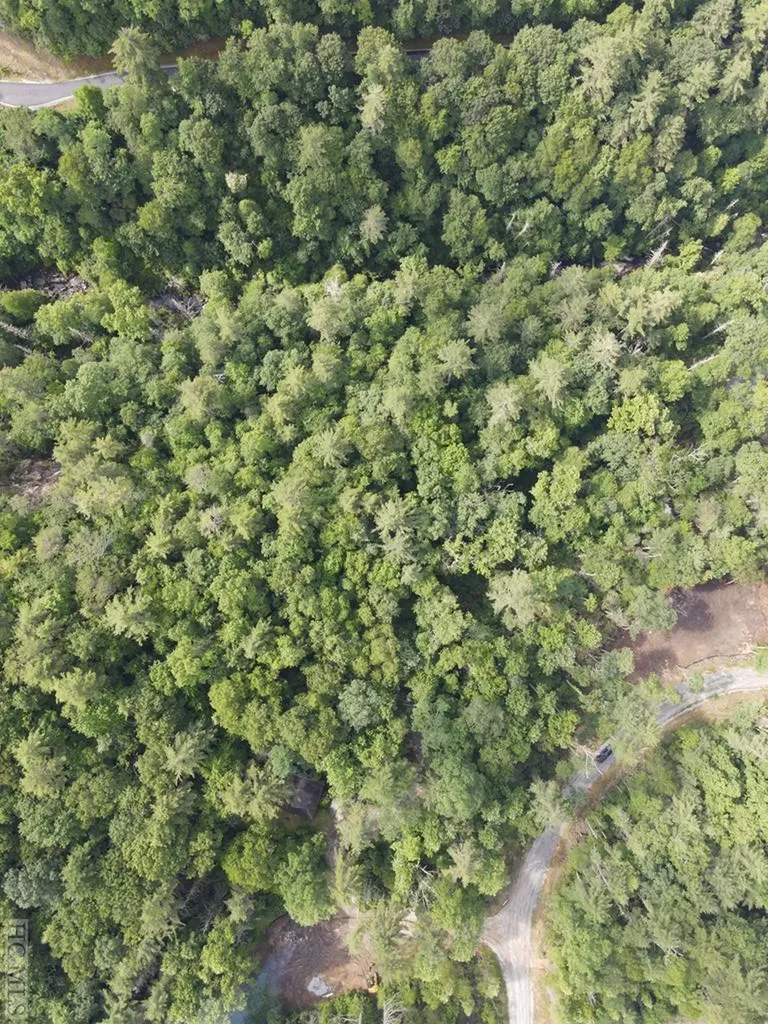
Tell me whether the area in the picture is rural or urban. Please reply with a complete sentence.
This place is rural.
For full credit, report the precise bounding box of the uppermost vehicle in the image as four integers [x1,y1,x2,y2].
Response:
[595,743,613,763]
